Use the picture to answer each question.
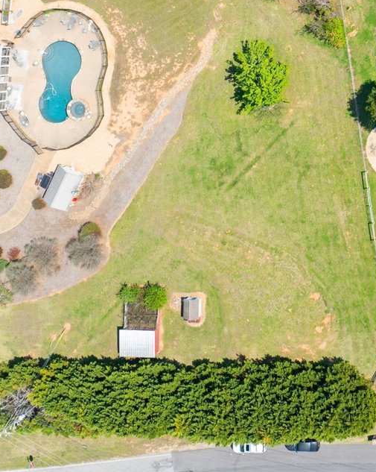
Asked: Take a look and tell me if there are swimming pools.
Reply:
Yes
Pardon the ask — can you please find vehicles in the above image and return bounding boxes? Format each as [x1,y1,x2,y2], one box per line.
[285,437,320,455]
[234,438,268,457]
